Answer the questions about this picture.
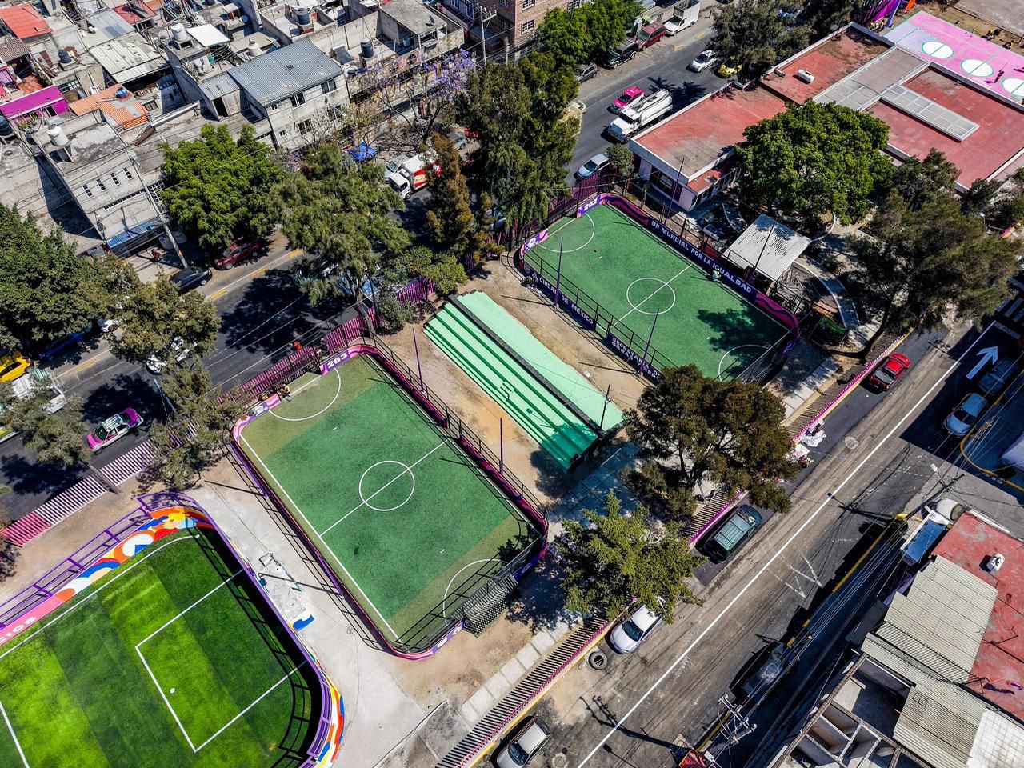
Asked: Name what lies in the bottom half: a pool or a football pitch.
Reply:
football pitch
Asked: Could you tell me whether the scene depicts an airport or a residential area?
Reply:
residential area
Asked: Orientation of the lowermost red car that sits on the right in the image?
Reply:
at an angle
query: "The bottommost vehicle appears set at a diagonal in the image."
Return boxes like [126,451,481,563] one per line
[487,711,553,768]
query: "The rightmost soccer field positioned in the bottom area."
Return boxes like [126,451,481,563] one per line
[236,351,551,660]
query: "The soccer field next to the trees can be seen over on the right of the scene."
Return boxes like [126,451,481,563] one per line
[518,197,793,400]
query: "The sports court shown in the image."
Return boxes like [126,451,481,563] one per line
[885,10,1024,105]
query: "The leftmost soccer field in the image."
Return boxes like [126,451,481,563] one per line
[0,526,329,768]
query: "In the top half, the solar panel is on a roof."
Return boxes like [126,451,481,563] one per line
[326,40,351,64]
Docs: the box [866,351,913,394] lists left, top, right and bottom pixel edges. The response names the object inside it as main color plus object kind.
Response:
red car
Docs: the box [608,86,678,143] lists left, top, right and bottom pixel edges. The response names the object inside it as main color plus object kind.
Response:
white truck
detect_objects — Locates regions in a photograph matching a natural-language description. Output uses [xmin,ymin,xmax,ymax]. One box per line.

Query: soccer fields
[0,526,329,768]
[236,351,551,660]
[518,197,793,400]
